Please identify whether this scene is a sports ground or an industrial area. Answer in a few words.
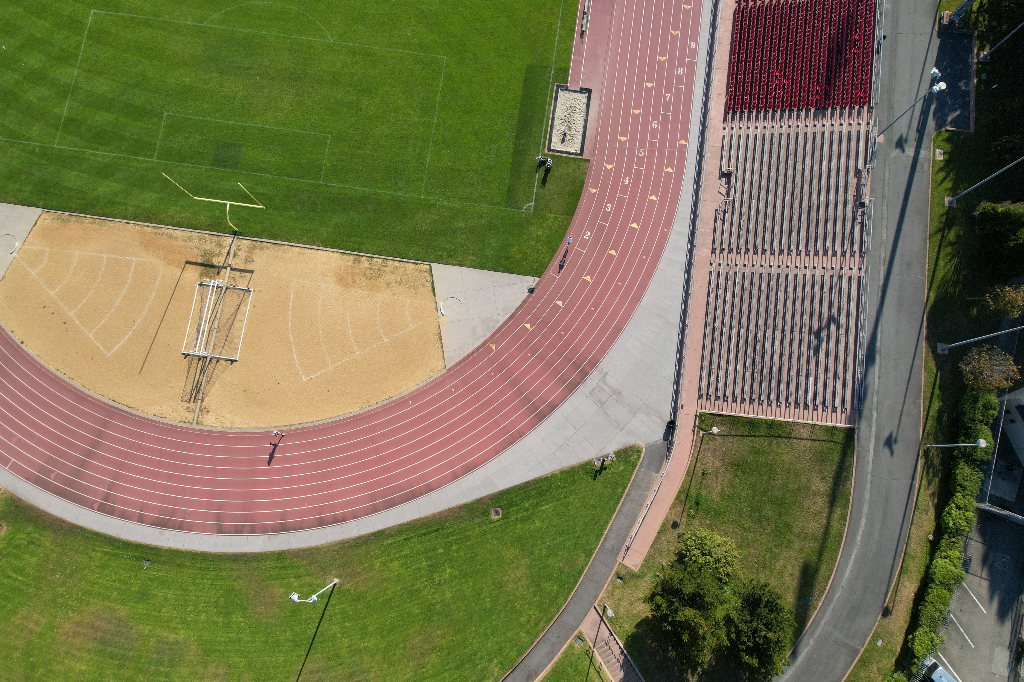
sports ground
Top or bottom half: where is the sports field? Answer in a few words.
top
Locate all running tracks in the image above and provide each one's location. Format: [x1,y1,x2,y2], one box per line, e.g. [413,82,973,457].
[0,0,704,536]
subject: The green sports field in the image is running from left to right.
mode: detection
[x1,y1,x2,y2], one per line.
[0,0,590,278]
